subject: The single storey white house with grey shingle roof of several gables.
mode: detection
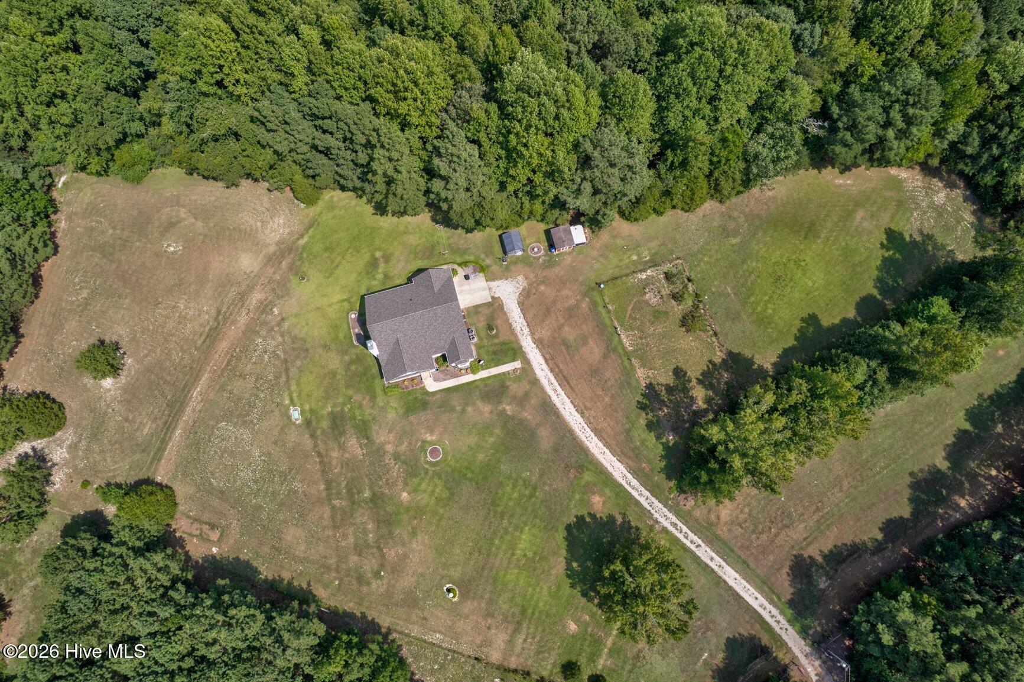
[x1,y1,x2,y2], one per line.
[364,267,475,383]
